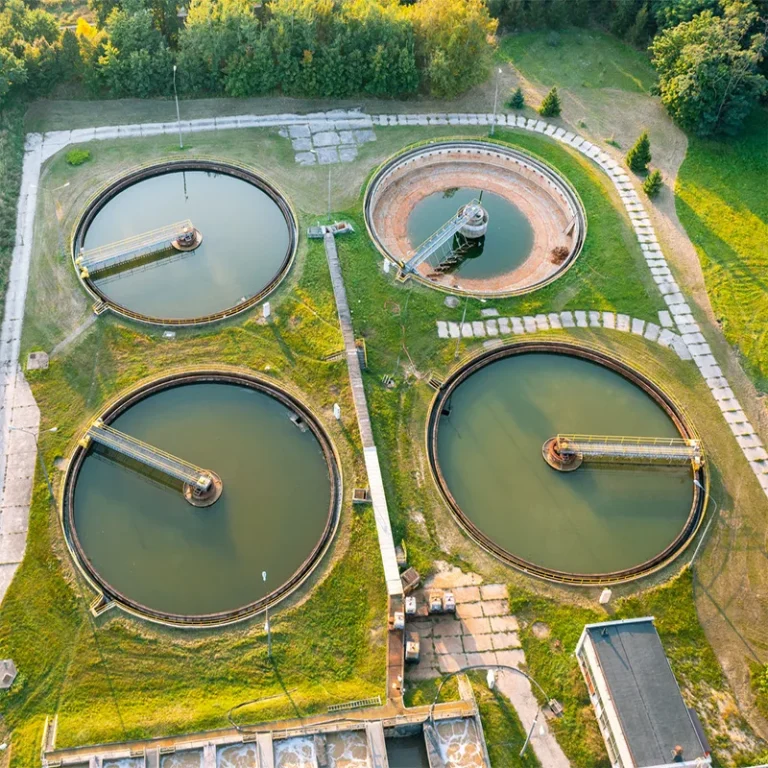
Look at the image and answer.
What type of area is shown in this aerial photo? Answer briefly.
industrial area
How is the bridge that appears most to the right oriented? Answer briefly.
horizontally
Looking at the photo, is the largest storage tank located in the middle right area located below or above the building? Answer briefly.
above it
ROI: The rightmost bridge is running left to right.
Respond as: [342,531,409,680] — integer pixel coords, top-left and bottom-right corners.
[557,436,703,471]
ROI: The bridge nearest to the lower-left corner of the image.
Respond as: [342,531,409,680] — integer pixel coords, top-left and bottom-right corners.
[81,418,211,493]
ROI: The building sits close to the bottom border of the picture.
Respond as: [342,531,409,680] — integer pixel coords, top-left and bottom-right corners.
[573,616,715,768]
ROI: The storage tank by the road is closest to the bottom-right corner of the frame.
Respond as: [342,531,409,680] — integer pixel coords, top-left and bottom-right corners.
[424,337,707,589]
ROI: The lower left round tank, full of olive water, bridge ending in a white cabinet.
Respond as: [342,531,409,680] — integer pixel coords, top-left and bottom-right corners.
[61,365,342,630]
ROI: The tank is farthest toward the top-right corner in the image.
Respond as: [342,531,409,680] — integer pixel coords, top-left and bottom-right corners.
[363,135,586,301]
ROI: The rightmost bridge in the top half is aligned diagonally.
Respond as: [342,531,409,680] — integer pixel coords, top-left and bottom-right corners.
[397,198,484,278]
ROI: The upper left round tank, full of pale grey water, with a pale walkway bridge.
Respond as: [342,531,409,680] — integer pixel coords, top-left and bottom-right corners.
[71,155,297,328]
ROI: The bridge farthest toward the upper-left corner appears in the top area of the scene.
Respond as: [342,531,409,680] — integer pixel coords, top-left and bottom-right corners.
[74,221,191,273]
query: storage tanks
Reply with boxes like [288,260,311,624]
[424,337,707,589]
[363,135,586,301]
[71,155,297,328]
[61,365,342,630]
